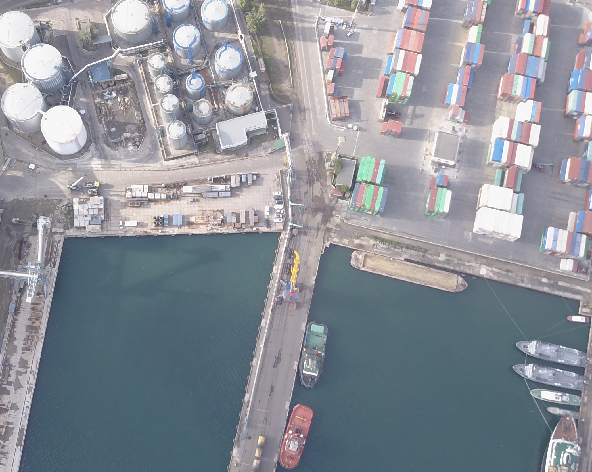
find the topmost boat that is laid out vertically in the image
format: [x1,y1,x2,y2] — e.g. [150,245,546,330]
[298,320,329,390]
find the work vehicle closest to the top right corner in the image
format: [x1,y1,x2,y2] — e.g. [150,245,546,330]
[530,151,559,173]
